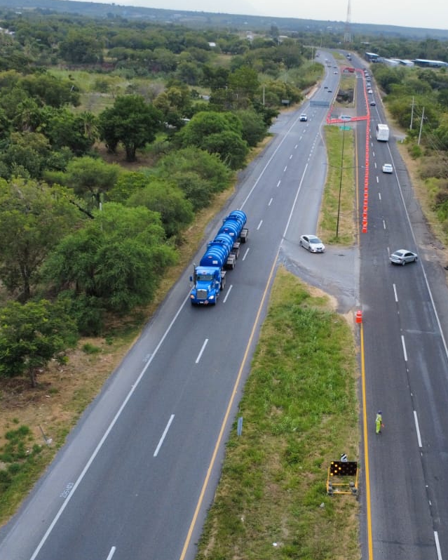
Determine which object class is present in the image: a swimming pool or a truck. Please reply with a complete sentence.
It is a truck that can be seen here.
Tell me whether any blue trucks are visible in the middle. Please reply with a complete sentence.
Yes, there is a blue truck in the middle.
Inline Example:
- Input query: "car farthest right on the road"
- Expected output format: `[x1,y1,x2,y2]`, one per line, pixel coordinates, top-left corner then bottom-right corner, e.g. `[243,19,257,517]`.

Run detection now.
[391,250,422,266]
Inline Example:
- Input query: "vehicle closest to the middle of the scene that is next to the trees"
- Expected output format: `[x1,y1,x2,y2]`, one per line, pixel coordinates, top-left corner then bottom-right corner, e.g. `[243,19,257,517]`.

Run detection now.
[193,208,254,301]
